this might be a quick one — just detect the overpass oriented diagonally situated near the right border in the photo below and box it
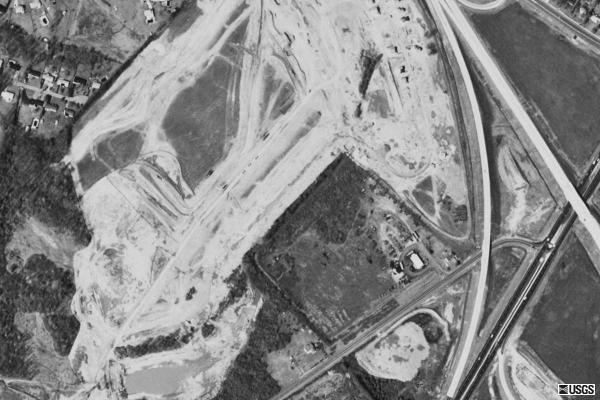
[555,174,600,233]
